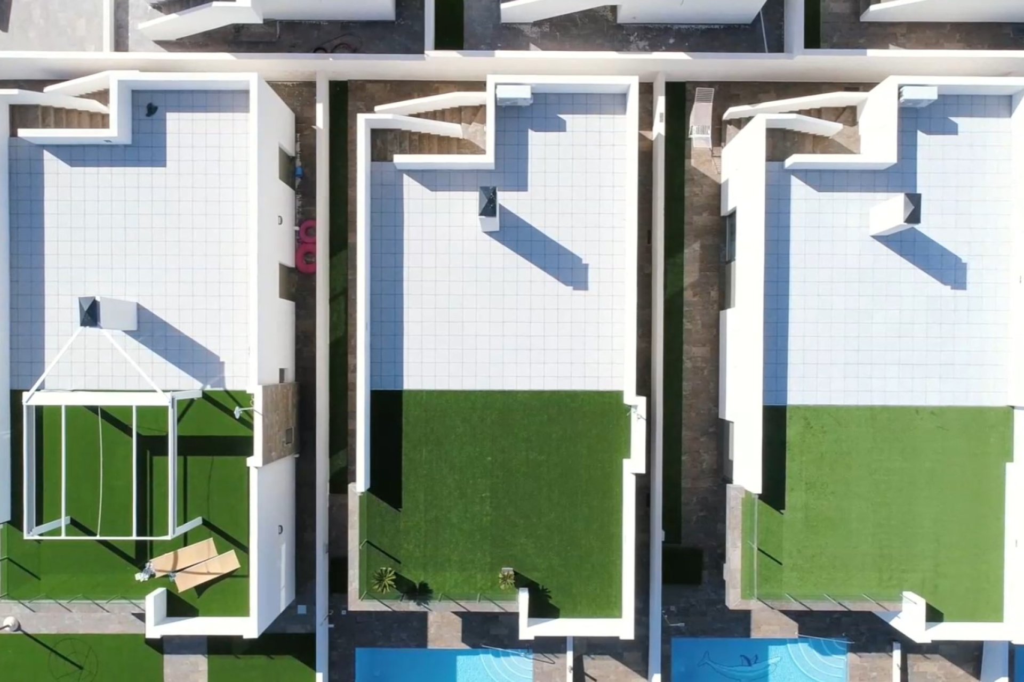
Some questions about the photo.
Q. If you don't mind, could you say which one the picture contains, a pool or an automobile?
pool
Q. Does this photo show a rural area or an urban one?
urban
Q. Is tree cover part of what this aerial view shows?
No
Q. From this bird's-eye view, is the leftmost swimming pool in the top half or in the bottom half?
bottom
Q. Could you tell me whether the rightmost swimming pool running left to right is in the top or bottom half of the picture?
bottom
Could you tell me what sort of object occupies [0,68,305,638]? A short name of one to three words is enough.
house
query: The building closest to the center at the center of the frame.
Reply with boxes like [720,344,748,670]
[348,75,646,639]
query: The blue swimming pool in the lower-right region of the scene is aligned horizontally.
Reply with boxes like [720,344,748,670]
[670,637,848,682]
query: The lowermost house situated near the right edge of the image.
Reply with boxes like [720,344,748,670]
[717,75,1024,643]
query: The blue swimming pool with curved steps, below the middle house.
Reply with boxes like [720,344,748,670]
[355,648,532,682]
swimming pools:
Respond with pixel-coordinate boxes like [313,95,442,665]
[670,637,848,682]
[355,648,532,682]
[1013,642,1024,682]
